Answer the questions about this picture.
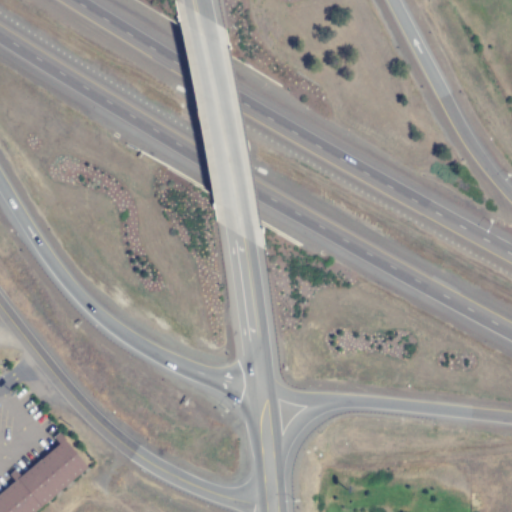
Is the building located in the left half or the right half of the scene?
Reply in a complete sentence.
It is on the left.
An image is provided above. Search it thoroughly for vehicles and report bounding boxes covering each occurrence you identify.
[46,424,58,435]
[8,465,16,474]
[26,451,35,462]
[86,302,96,313]
[32,412,44,421]
[0,476,8,487]
[34,236,42,247]
[6,429,11,440]
[166,361,178,370]
[16,389,28,400]
[248,363,254,375]
[37,414,48,424]
[46,436,55,446]
[256,166,269,176]
[38,438,50,451]
[30,448,40,458]
[24,402,34,410]
[2,470,11,481]
[28,406,39,416]
[8,198,18,210]
[228,394,240,403]
[174,85,186,94]
[21,454,31,466]
[16,458,27,470]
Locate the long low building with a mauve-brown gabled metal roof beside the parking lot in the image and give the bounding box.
[0,435,87,512]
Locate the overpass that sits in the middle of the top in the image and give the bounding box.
[180,1,266,248]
